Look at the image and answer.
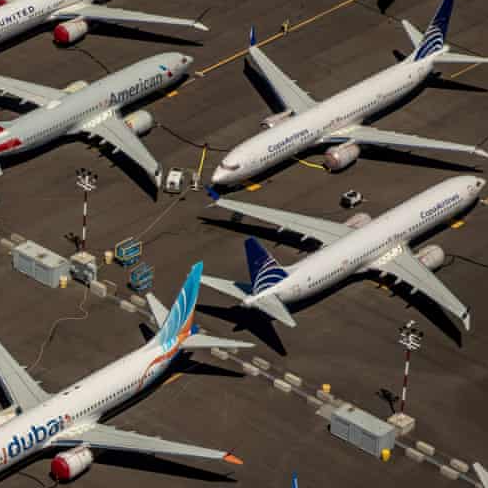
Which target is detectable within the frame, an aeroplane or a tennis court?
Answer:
aeroplane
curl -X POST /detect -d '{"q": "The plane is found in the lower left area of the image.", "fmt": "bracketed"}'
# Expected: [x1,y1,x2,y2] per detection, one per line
[0,261,256,485]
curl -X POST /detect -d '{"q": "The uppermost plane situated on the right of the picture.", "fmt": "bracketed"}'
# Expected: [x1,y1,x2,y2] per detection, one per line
[210,0,488,194]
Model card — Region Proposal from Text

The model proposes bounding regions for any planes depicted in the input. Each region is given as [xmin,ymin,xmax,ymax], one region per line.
[210,0,488,194]
[0,261,256,485]
[188,173,486,332]
[0,0,212,46]
[0,50,197,187]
